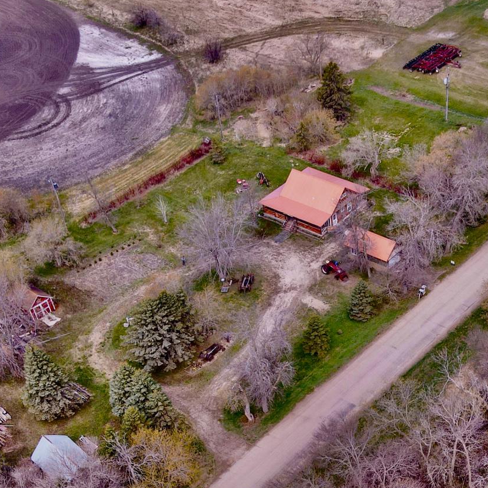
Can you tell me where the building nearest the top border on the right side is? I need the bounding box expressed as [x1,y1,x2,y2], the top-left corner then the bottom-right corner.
[259,168,370,243]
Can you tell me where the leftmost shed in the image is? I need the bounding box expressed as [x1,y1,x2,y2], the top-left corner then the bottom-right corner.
[13,283,55,320]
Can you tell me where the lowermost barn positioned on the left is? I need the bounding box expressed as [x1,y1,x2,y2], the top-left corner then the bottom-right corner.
[30,434,102,488]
